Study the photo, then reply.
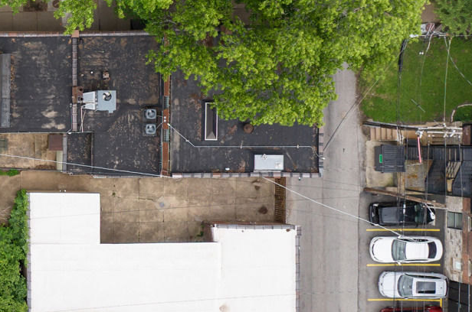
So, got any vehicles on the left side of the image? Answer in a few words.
No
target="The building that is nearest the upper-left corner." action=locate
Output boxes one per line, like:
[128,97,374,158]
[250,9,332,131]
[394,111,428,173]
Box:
[0,35,72,135]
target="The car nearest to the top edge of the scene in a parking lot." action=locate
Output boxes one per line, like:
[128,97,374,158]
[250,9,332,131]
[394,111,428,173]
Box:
[363,198,432,232]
